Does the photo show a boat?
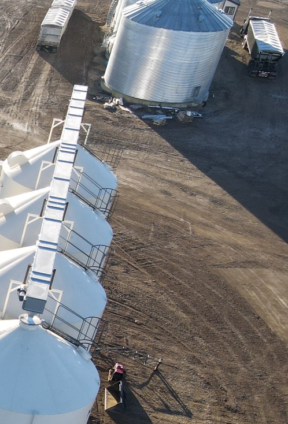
No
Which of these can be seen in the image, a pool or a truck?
truck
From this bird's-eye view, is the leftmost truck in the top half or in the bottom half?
top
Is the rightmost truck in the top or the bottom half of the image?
top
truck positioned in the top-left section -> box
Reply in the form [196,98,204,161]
[35,0,73,53]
